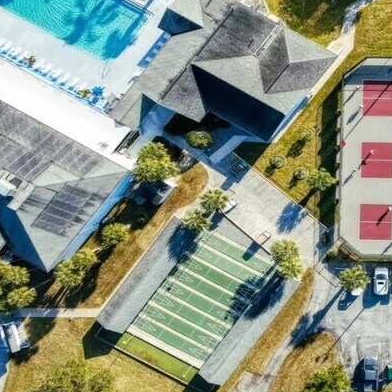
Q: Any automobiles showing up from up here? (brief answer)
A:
Yes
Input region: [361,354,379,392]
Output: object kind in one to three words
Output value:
vehicle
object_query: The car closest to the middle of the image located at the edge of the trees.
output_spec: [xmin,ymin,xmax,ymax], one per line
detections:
[146,183,171,208]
